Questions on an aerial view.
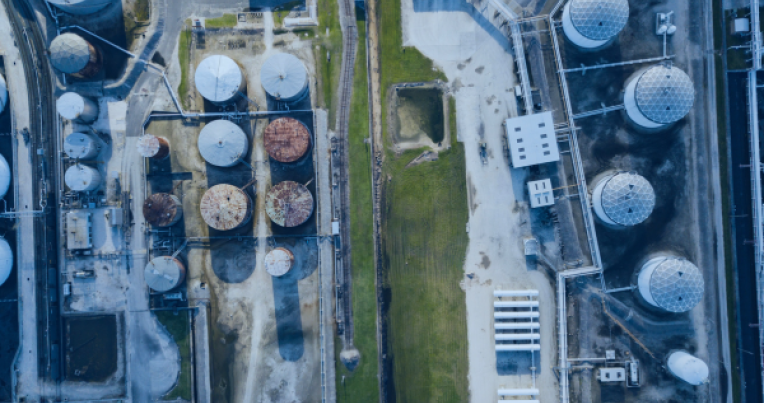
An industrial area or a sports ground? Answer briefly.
industrial area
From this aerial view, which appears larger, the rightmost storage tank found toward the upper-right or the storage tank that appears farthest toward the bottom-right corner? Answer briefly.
the rightmost storage tank found toward the upper-right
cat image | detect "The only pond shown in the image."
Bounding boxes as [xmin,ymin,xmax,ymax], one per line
[386,78,450,153]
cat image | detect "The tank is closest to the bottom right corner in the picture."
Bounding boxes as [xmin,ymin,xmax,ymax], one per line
[666,349,710,385]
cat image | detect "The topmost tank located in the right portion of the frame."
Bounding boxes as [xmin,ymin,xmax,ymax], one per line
[560,0,630,49]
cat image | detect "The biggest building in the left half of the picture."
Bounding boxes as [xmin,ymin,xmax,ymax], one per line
[67,212,93,249]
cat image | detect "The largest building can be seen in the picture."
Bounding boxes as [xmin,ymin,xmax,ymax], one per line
[504,111,559,168]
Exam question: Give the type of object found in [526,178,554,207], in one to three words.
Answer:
building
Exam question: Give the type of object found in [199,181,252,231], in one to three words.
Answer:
storage tank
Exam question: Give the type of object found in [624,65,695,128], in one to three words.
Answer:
storage tank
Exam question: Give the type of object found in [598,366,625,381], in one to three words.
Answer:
building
